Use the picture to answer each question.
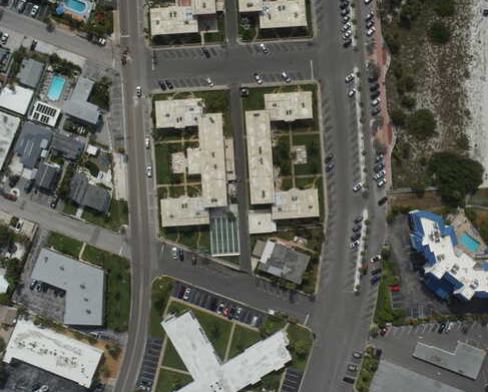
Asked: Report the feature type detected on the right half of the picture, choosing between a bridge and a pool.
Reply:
pool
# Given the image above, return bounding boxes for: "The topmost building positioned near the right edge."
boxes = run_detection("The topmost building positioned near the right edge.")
[407,208,488,302]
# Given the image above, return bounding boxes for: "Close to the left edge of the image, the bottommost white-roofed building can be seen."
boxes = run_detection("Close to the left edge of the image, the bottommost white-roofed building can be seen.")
[4,315,107,389]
